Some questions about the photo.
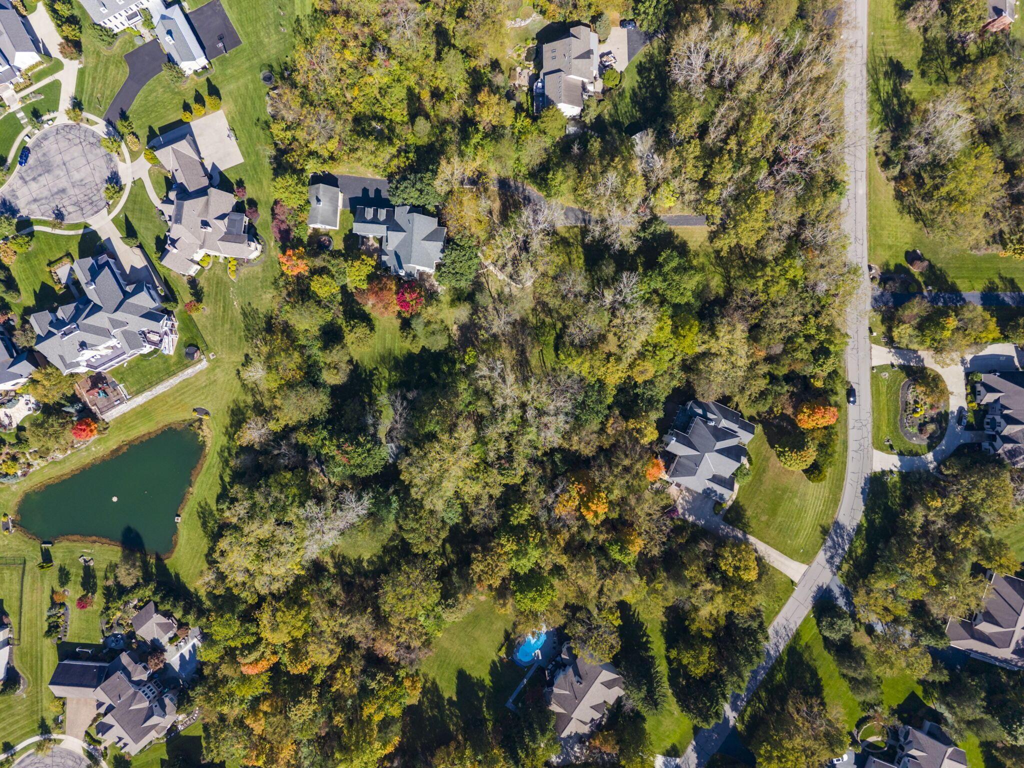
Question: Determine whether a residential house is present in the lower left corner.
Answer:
Yes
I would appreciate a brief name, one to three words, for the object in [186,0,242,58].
sports court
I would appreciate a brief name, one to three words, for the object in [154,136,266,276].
house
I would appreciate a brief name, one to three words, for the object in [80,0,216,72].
house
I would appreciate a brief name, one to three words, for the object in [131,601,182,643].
building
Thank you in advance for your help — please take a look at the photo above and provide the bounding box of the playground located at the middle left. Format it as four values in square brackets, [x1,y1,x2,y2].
[76,373,124,415]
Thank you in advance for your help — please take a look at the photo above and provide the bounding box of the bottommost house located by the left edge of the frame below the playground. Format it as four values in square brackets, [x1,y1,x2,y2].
[47,647,181,755]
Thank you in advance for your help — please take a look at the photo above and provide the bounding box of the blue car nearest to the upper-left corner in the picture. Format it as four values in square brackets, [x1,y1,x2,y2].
[17,146,31,166]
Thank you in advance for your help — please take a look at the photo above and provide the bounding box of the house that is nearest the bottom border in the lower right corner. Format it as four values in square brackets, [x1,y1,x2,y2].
[857,714,967,768]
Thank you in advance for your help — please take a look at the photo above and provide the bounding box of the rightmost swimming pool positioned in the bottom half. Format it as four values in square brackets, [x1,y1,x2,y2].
[516,632,548,663]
